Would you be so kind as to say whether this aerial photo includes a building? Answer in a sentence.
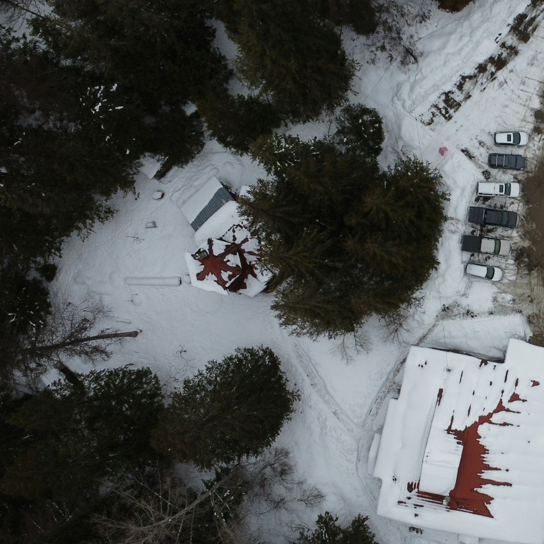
Yes, the frame does contain a building.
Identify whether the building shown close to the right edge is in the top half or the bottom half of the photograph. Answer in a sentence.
The building shown close to the right edge is in the bottom half of the image.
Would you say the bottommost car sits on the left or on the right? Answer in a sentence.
The bottommost car is on the right side of the image.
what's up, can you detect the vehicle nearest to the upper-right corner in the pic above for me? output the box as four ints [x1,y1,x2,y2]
[494,130,531,148]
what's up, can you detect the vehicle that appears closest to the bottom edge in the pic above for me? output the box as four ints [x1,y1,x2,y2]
[465,262,506,282]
